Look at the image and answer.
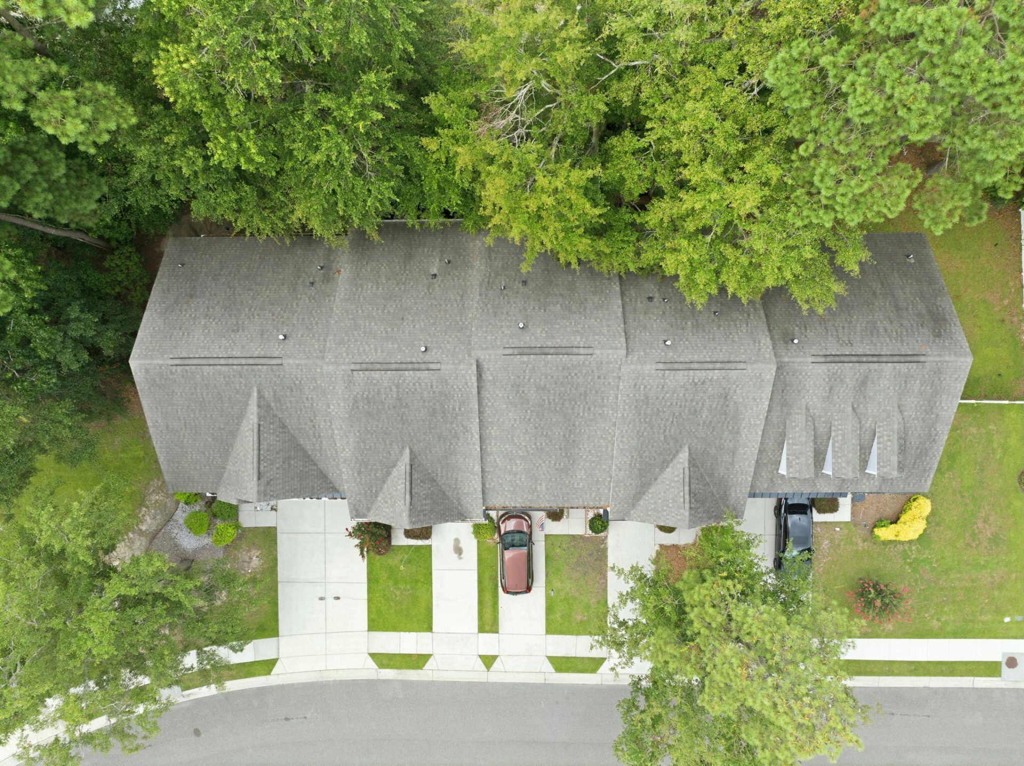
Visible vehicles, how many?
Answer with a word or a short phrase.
2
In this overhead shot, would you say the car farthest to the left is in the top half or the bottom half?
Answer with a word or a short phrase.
bottom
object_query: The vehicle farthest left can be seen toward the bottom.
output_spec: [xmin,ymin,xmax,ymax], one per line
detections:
[497,512,535,595]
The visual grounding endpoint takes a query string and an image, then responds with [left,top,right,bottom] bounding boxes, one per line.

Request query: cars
[774,498,817,578]
[497,512,535,595]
